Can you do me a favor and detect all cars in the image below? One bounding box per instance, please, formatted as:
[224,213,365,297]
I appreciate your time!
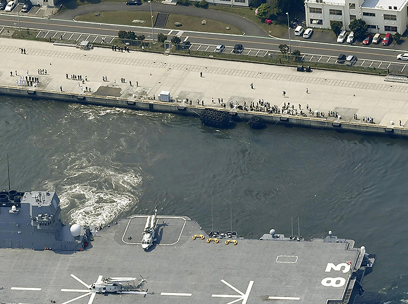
[126,0,143,5]
[232,45,244,53]
[397,53,408,60]
[180,42,191,50]
[344,30,357,43]
[335,53,348,64]
[0,0,9,9]
[381,32,393,45]
[372,32,382,43]
[302,27,314,39]
[293,23,306,36]
[336,31,348,42]
[344,56,357,66]
[20,3,33,12]
[4,2,16,10]
[361,34,373,45]
[214,44,227,53]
